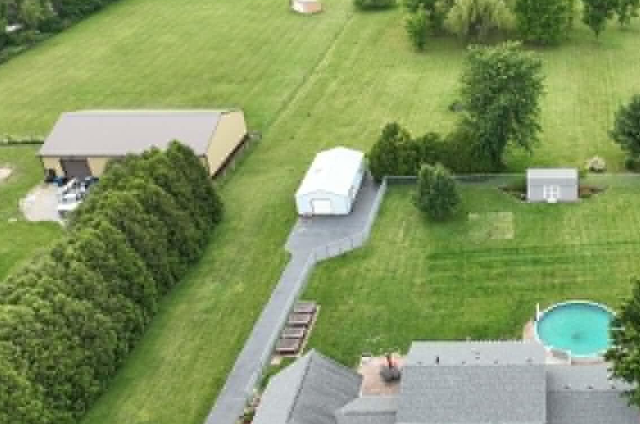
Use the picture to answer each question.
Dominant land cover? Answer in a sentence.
Most of the picture is covered by grass.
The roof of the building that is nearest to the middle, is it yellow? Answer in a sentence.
No, from above the roof of the building that is nearest to the middle looks white.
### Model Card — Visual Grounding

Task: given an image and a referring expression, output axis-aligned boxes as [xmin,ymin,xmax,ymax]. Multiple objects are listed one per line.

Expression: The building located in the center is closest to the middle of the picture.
[293,128,374,215]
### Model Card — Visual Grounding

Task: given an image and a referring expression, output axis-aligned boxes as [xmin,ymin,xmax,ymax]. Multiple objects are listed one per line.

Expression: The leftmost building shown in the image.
[32,110,239,176]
